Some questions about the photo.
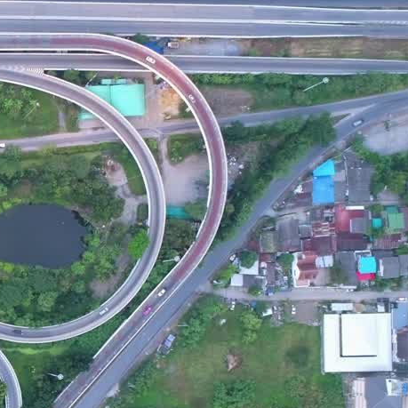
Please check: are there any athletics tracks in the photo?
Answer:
No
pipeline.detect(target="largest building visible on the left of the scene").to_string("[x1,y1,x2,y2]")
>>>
[84,84,145,117]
